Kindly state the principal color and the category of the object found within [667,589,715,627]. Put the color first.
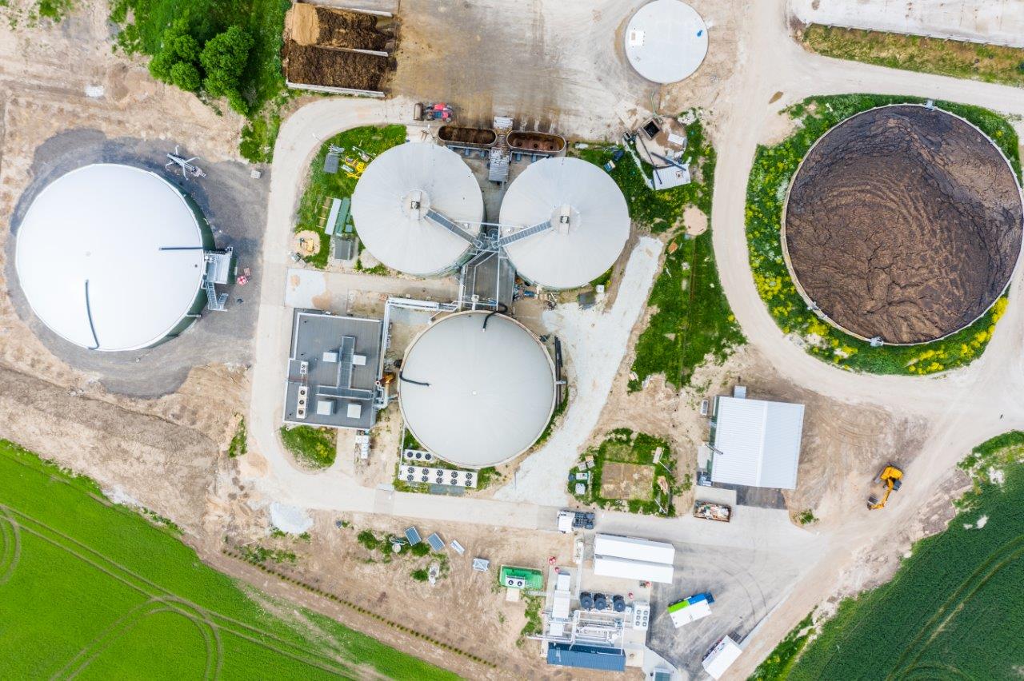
white trailer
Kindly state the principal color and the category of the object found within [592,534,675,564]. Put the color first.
white trailer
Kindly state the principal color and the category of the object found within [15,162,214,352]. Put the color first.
white storage tank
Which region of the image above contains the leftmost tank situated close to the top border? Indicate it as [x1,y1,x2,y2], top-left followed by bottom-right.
[623,0,708,85]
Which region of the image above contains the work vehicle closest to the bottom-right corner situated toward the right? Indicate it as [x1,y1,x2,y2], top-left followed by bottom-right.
[867,463,907,509]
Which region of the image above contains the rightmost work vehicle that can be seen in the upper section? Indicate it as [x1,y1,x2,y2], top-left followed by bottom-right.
[412,103,456,123]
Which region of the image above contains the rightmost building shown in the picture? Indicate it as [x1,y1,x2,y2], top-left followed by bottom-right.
[704,386,806,489]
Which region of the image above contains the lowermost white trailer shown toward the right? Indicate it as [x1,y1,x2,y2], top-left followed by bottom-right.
[700,627,743,681]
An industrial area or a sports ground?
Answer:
industrial area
